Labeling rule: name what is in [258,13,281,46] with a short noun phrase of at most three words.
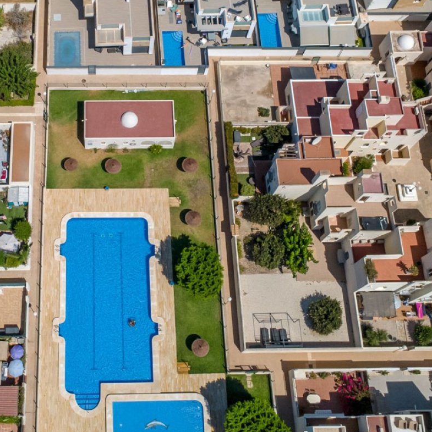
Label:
swimming pool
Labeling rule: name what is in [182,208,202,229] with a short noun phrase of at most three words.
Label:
umbrella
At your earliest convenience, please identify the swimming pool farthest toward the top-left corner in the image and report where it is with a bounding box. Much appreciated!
[55,31,80,65]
